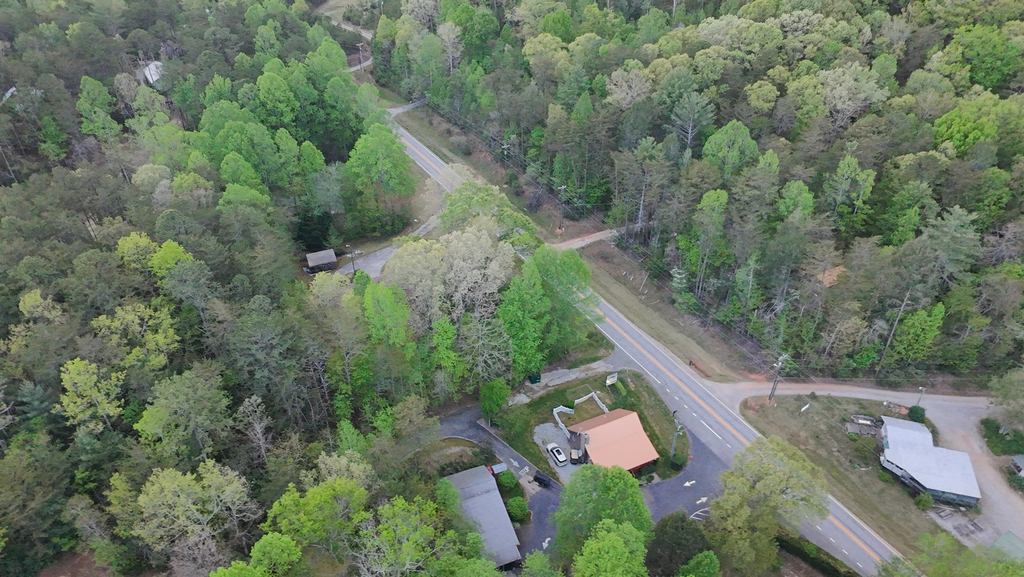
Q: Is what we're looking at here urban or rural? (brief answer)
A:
rural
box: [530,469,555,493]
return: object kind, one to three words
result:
car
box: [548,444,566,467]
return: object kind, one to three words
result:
car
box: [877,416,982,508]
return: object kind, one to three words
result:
building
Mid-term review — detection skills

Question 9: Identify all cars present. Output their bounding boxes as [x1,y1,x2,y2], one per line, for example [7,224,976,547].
[566,448,585,465]
[548,444,566,467]
[530,469,555,493]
